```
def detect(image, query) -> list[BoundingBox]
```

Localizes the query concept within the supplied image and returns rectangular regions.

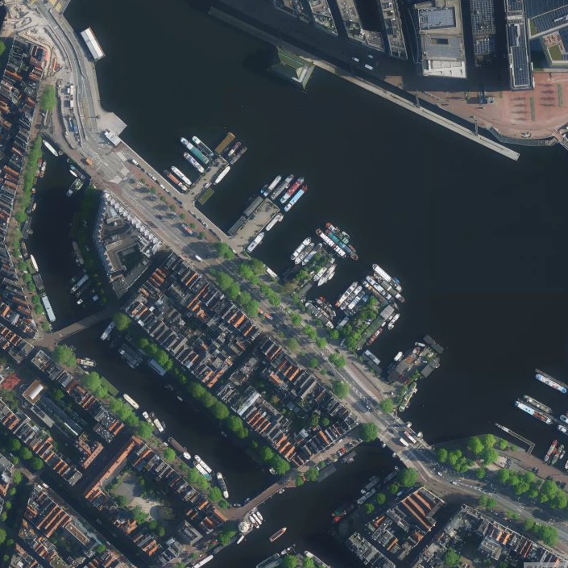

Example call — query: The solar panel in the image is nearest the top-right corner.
[533,5,568,32]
